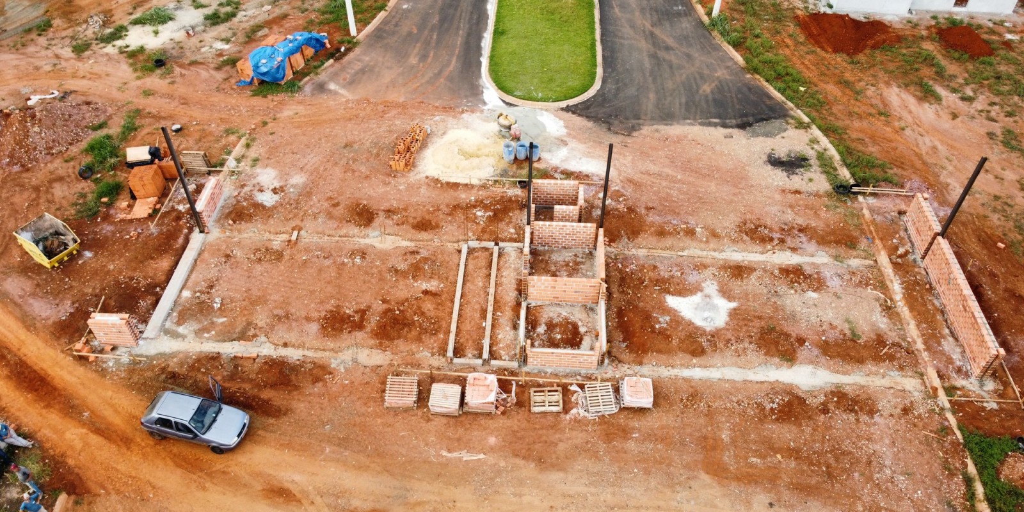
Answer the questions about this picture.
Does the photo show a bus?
No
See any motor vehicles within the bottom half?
Yes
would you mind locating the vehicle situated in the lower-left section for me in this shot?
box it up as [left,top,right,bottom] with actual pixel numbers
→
[142,382,248,454]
